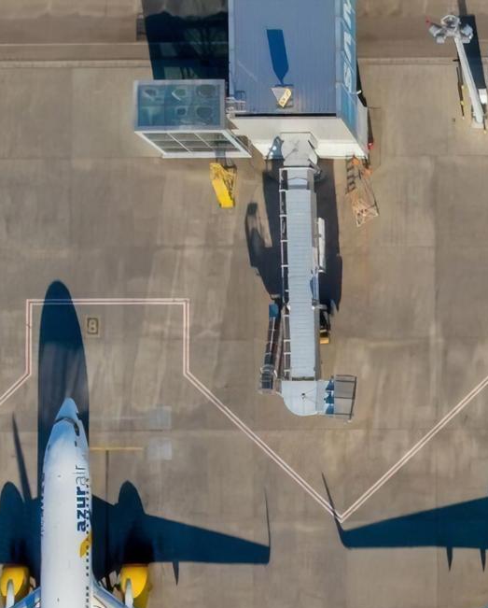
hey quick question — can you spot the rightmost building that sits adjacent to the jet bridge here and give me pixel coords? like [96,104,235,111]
[227,0,370,159]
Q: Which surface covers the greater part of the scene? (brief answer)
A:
paved ground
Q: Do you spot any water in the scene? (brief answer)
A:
No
